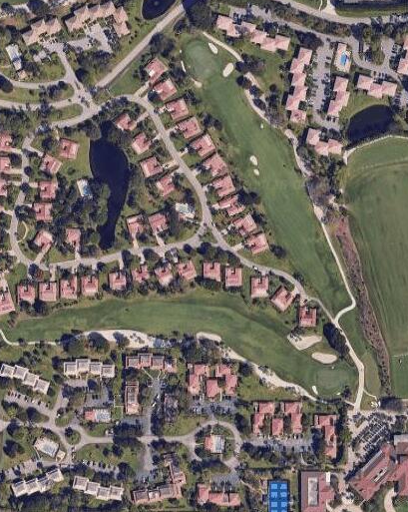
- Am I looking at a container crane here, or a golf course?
golf course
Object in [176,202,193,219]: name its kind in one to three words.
swimming pool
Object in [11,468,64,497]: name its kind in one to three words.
building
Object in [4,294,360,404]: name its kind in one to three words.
golf course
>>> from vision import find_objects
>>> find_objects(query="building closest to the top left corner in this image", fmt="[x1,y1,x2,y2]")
[20,18,62,48]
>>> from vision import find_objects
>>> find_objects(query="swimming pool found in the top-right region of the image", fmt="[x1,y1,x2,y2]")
[335,44,351,72]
